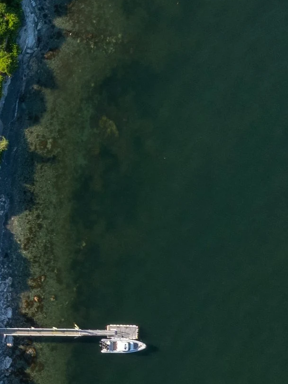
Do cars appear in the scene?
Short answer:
No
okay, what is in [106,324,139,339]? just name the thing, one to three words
pier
